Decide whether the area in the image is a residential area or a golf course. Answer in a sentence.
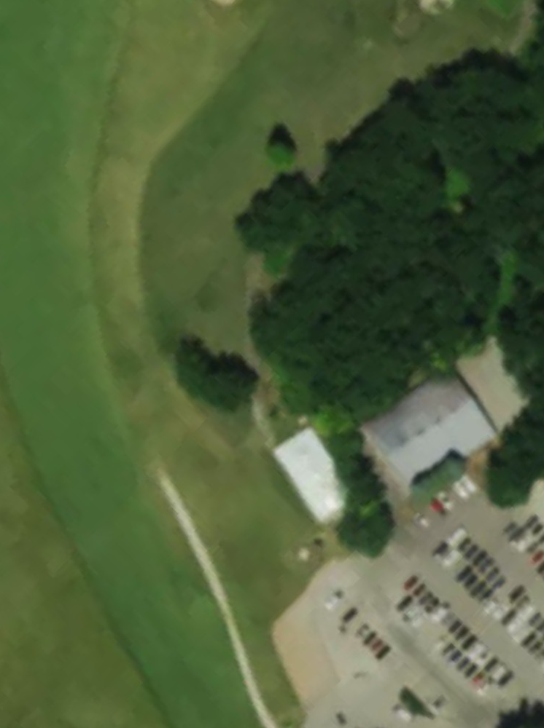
The area seen from above is a golf course.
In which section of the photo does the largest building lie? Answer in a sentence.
The largest building sits in the right section of the image.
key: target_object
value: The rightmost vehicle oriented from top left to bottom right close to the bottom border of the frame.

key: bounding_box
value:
[395,706,414,723]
